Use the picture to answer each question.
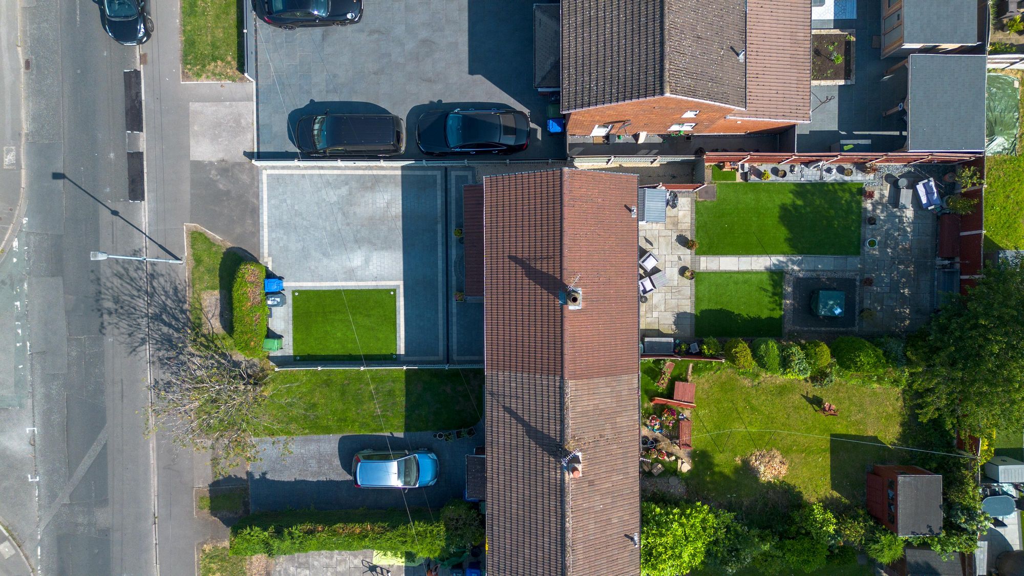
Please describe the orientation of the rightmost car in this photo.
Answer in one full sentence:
In this picture, the rightmost car lies horizontally.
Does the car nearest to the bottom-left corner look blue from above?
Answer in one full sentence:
Yes, blue is the color of the car nearest to the bottom-left corner.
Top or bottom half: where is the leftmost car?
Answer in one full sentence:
It is in the top half that the leftmost car appears.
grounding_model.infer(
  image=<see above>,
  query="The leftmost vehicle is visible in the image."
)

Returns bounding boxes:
[99,0,154,45]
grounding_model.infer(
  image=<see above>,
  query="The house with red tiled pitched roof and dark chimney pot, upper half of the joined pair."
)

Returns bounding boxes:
[462,167,641,378]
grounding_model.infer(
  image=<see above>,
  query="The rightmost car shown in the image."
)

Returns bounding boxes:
[418,104,530,156]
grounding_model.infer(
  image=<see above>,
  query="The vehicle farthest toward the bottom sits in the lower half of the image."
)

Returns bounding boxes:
[353,447,439,495]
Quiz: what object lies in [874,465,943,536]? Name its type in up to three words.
shed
